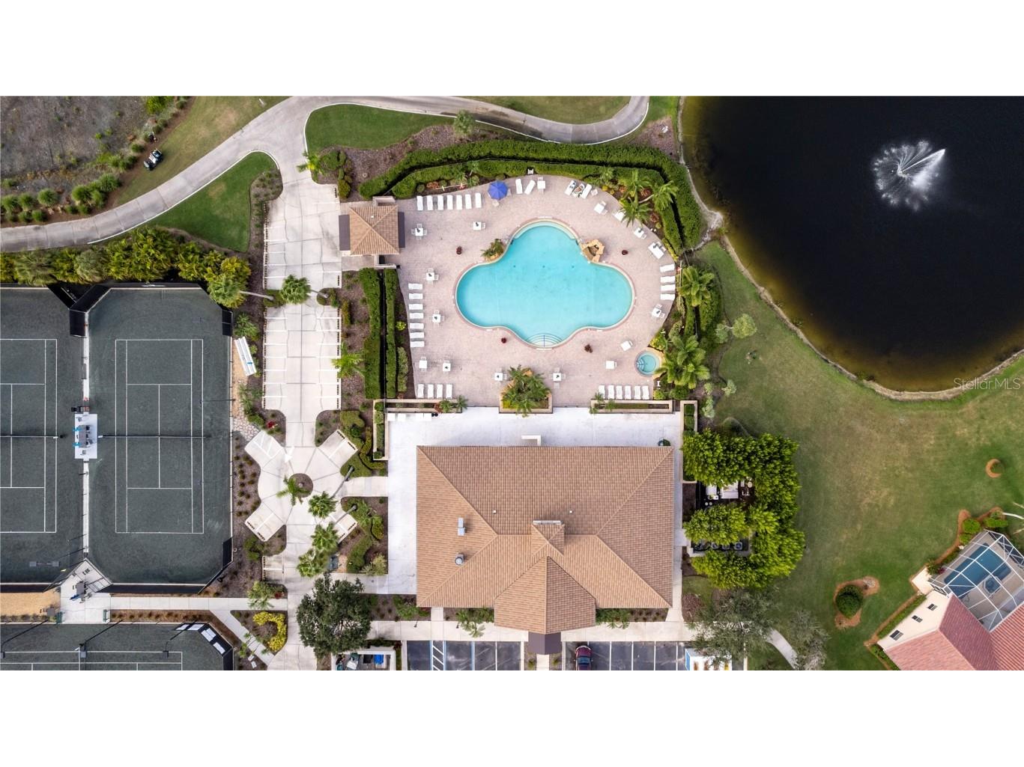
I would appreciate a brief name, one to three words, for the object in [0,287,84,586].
tennis court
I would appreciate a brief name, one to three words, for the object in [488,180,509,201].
umbrella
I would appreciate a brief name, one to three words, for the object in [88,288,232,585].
tennis court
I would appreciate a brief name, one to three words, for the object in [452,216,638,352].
swimming pool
